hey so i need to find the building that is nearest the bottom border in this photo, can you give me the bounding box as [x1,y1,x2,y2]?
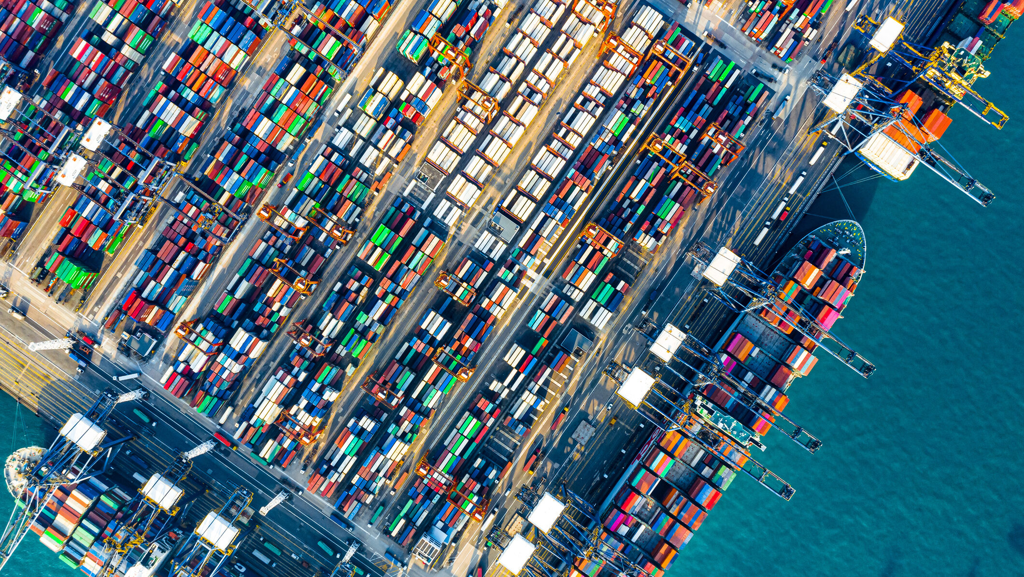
[411,527,454,566]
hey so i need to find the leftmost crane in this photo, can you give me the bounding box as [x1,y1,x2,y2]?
[0,392,141,569]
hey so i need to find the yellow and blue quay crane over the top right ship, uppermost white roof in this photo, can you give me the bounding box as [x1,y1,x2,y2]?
[839,5,1004,127]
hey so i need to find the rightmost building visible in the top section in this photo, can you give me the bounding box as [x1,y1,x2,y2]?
[488,211,520,243]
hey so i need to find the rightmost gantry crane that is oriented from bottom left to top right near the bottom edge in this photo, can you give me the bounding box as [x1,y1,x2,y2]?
[171,487,263,577]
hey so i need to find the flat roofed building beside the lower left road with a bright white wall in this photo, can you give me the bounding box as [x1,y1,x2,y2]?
[114,329,160,356]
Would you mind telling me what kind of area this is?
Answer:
port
